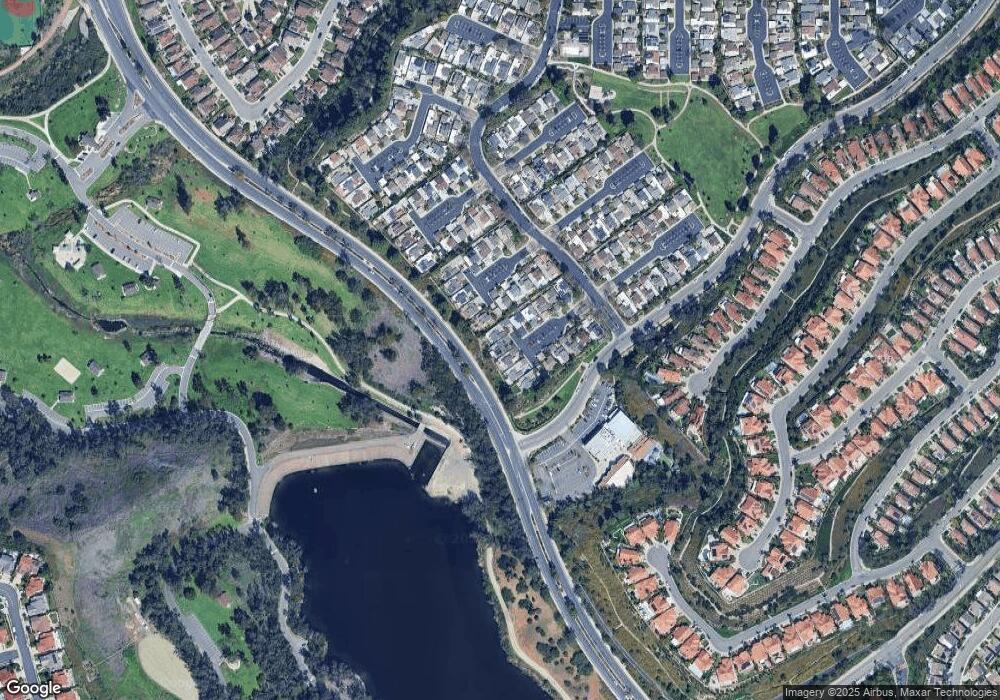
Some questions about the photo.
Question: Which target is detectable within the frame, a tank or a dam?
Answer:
dam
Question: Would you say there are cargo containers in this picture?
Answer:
No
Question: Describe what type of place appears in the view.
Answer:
residential area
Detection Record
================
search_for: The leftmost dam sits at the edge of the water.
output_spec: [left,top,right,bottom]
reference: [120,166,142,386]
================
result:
[249,435,416,520]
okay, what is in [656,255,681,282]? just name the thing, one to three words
house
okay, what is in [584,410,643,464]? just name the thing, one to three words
building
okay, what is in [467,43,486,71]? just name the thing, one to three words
house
